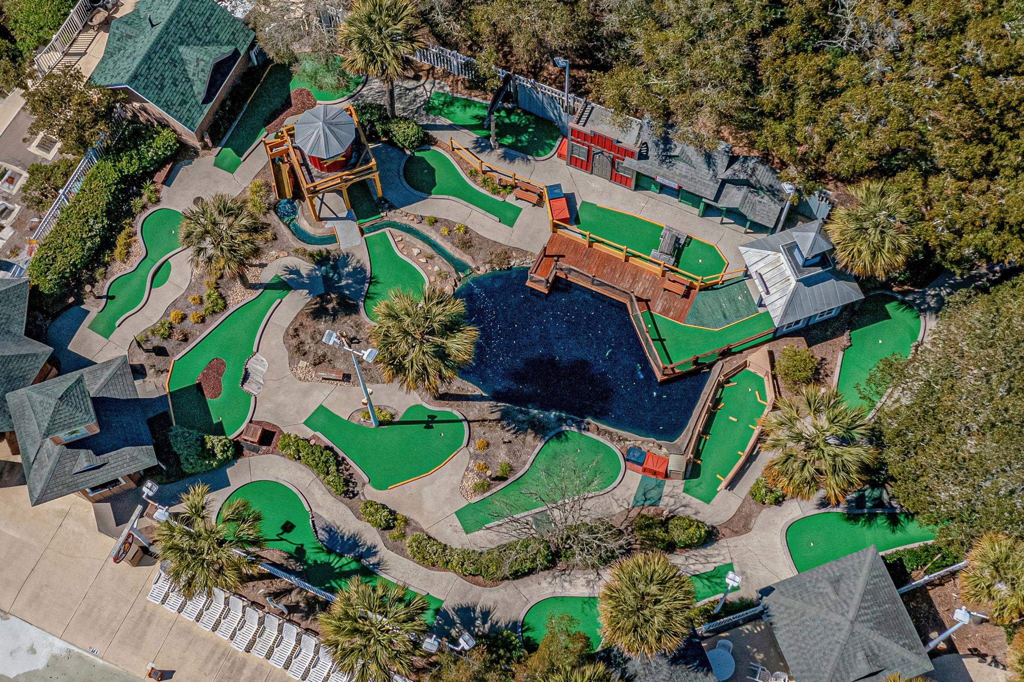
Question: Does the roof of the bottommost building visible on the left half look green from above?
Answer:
No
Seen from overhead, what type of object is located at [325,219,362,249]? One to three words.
bridge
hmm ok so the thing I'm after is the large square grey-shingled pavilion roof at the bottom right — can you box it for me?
[758,544,935,682]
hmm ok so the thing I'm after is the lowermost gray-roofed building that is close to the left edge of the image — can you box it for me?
[11,353,158,511]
